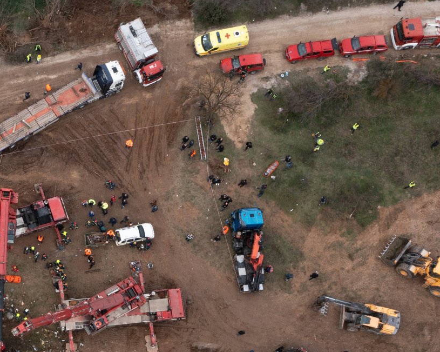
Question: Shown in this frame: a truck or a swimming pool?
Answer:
truck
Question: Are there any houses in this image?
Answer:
No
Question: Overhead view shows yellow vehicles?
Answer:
Yes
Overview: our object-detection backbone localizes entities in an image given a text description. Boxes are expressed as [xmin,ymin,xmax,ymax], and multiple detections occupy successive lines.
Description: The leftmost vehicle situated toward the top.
[0,57,128,156]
